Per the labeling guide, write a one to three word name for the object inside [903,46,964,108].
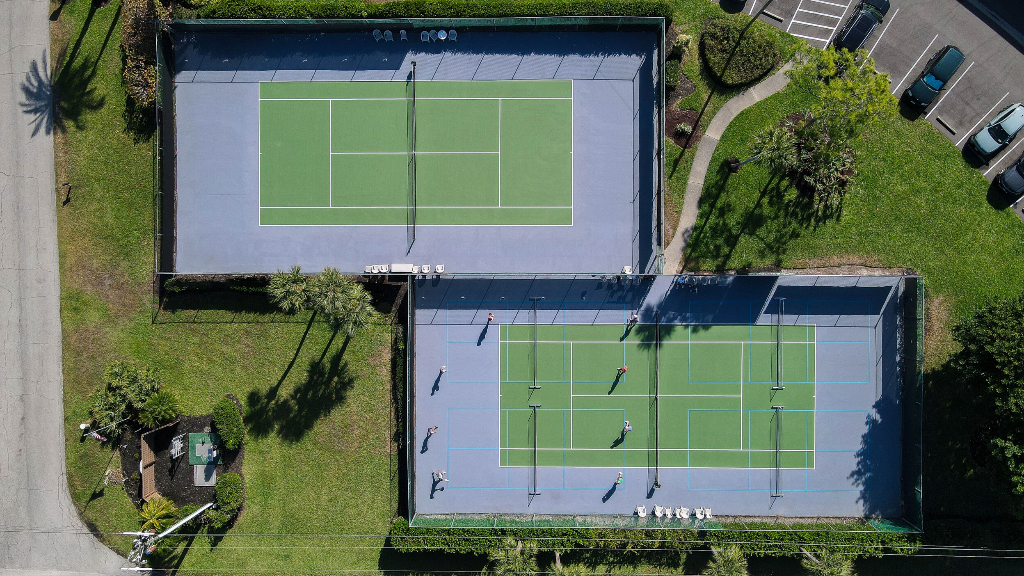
car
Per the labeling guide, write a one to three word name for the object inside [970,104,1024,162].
car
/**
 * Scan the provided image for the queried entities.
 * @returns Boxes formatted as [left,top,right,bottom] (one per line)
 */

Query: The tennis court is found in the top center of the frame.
[175,30,658,274]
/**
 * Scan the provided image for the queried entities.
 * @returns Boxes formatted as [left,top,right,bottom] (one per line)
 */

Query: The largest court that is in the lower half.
[416,275,902,518]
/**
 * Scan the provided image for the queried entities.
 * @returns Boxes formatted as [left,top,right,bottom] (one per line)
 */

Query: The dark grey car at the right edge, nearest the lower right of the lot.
[992,143,1024,193]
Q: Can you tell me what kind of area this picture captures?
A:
sports ground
